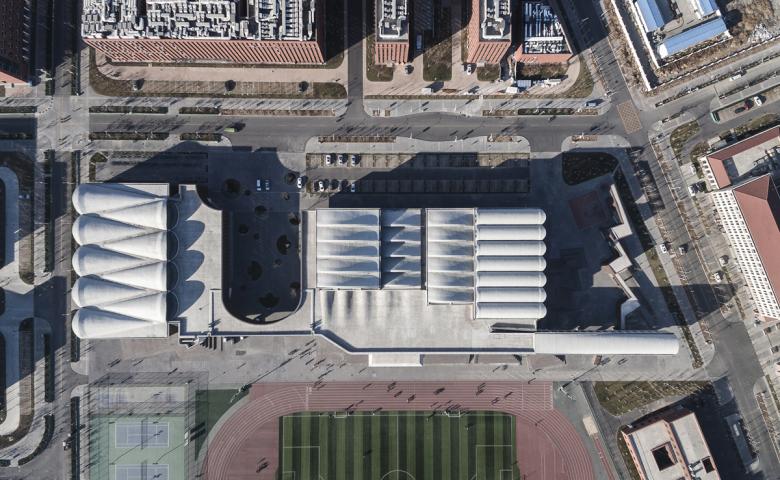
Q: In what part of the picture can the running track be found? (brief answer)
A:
bottom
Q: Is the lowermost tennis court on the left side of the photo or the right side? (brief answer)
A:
left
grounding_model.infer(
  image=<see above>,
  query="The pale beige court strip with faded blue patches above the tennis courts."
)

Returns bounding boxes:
[88,384,190,413]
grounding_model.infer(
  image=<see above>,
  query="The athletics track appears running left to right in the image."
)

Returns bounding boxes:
[195,382,617,480]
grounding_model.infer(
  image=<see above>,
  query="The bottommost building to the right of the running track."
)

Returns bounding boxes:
[621,405,718,480]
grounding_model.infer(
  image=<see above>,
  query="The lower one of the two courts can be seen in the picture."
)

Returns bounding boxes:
[88,414,184,480]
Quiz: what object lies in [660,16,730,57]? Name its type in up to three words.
shed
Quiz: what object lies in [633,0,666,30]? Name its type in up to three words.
shed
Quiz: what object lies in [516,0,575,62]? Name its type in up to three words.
building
